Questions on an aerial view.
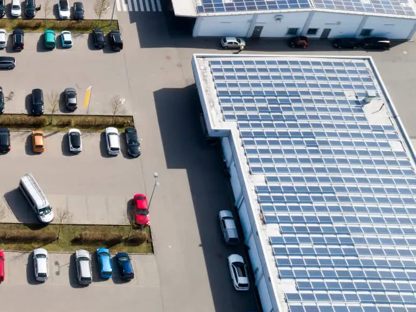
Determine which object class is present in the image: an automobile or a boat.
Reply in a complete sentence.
The one in the frame is an automobile.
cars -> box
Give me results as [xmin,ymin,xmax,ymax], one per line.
[56,0,72,21]
[64,89,78,112]
[9,0,23,18]
[359,36,392,51]
[226,257,252,290]
[217,212,243,246]
[73,0,87,22]
[114,249,137,286]
[90,30,106,51]
[104,128,121,157]
[0,56,18,71]
[30,129,45,154]
[0,30,8,50]
[0,0,7,18]
[331,36,363,50]
[221,36,246,50]
[131,195,151,226]
[30,88,45,116]
[11,30,25,52]
[74,251,93,287]
[23,0,42,19]
[0,127,12,154]
[124,129,142,157]
[60,30,73,50]
[286,36,311,51]
[67,130,83,154]
[94,249,114,281]
[32,249,50,284]
[0,88,6,112]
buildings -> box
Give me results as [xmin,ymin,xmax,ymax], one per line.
[189,55,416,312]
[171,0,416,40]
